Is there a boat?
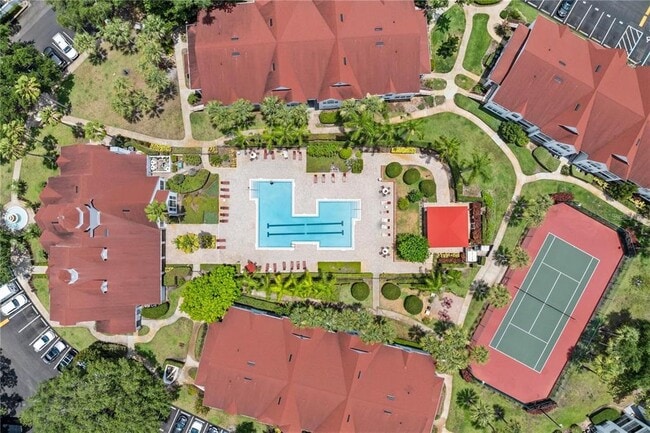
No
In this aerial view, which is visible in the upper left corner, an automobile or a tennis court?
automobile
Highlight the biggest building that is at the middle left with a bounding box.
[37,142,177,335]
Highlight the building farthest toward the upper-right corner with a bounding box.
[477,13,650,201]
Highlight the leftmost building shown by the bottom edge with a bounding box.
[196,305,441,433]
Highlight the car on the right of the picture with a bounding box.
[554,0,574,22]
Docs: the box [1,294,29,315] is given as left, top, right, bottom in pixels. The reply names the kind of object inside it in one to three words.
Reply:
car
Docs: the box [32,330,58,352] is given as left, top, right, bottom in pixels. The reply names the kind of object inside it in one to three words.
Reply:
car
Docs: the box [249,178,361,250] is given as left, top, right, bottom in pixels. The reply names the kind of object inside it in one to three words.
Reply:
swimming pool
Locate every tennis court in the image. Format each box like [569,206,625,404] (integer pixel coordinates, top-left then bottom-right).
[467,203,624,404]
